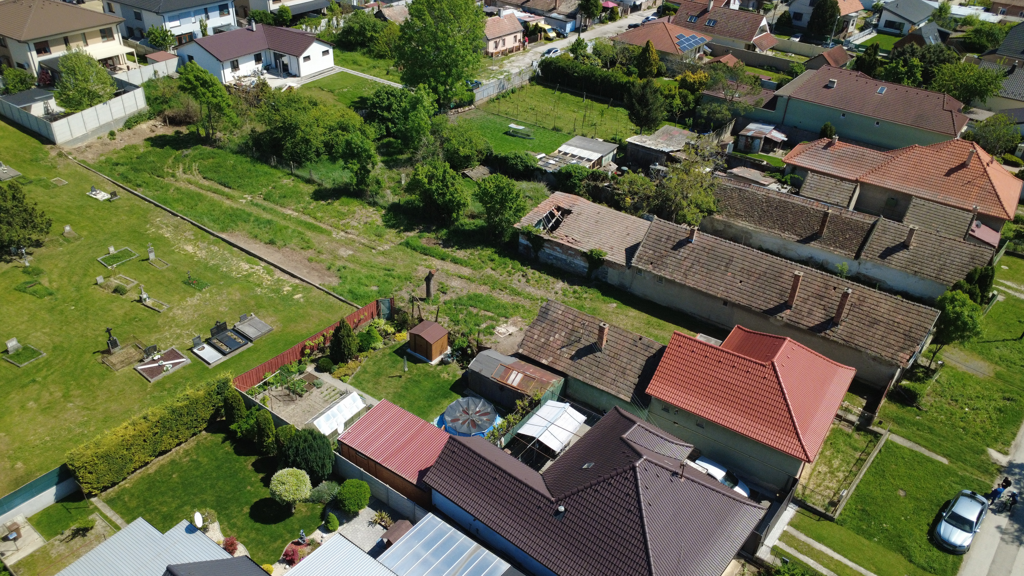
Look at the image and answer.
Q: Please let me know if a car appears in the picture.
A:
Yes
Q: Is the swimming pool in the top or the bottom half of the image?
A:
bottom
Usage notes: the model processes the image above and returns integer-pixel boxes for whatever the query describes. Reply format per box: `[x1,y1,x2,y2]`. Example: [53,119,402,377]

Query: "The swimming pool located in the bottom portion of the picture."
[439,396,502,438]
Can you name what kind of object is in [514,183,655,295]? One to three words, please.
shed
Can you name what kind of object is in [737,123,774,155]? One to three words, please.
shed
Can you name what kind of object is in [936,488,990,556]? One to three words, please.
car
